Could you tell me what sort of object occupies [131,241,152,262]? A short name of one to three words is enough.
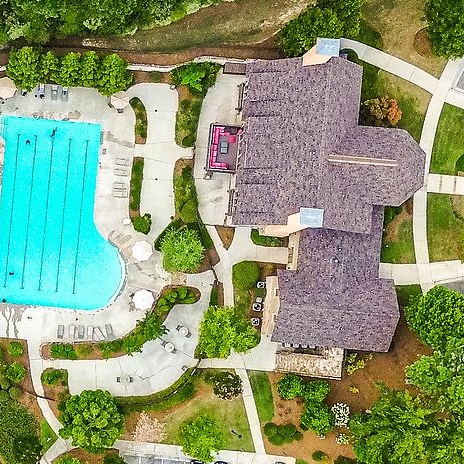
umbrella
